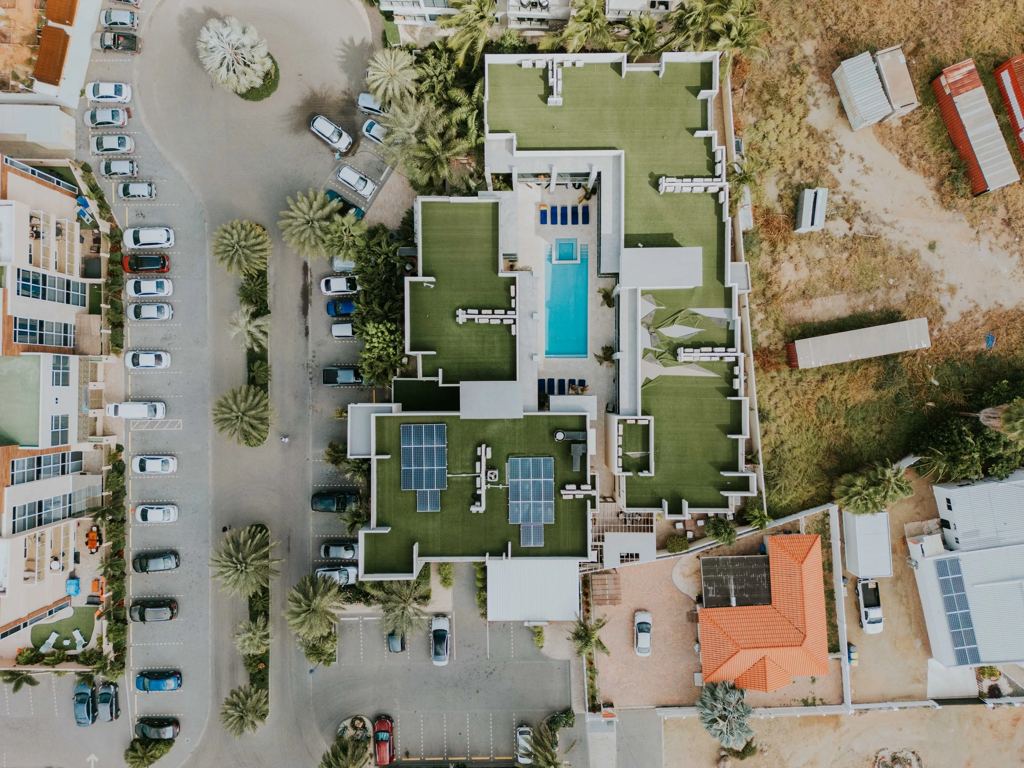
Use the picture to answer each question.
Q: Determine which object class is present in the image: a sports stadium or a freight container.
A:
freight container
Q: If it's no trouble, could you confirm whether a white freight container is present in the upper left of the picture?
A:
No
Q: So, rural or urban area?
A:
urban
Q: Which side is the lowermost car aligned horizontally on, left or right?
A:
left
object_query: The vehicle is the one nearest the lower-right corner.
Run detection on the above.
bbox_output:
[856,578,886,633]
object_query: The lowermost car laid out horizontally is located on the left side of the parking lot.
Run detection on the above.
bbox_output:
[136,715,183,738]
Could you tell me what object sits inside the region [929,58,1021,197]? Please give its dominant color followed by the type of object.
white shipping container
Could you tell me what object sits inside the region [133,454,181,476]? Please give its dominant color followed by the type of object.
white car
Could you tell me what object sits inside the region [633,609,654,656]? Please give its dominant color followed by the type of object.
white car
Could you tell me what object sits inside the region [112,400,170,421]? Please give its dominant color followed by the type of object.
white vehicle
